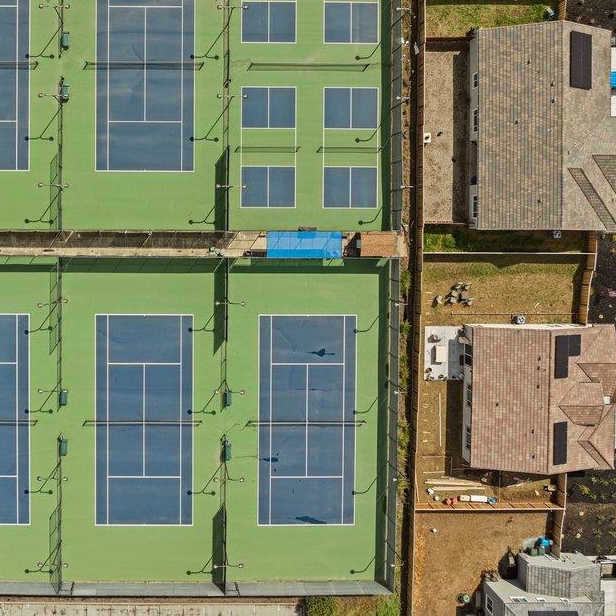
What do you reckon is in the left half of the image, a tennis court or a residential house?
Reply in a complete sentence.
There is a tennis court in the left half of the image.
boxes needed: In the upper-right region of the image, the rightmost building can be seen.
[470,20,616,231]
